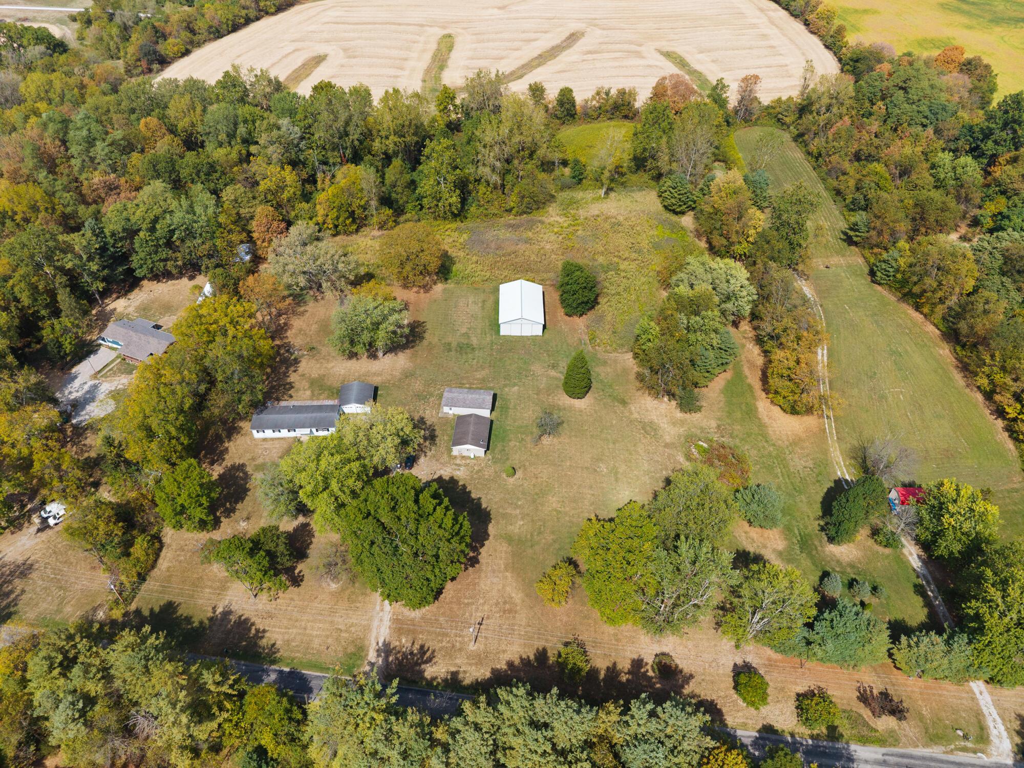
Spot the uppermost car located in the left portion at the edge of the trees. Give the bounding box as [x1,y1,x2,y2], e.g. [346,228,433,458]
[403,452,415,469]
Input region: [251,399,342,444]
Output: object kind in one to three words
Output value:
house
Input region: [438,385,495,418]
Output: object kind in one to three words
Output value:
shed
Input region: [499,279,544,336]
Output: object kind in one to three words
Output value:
barn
